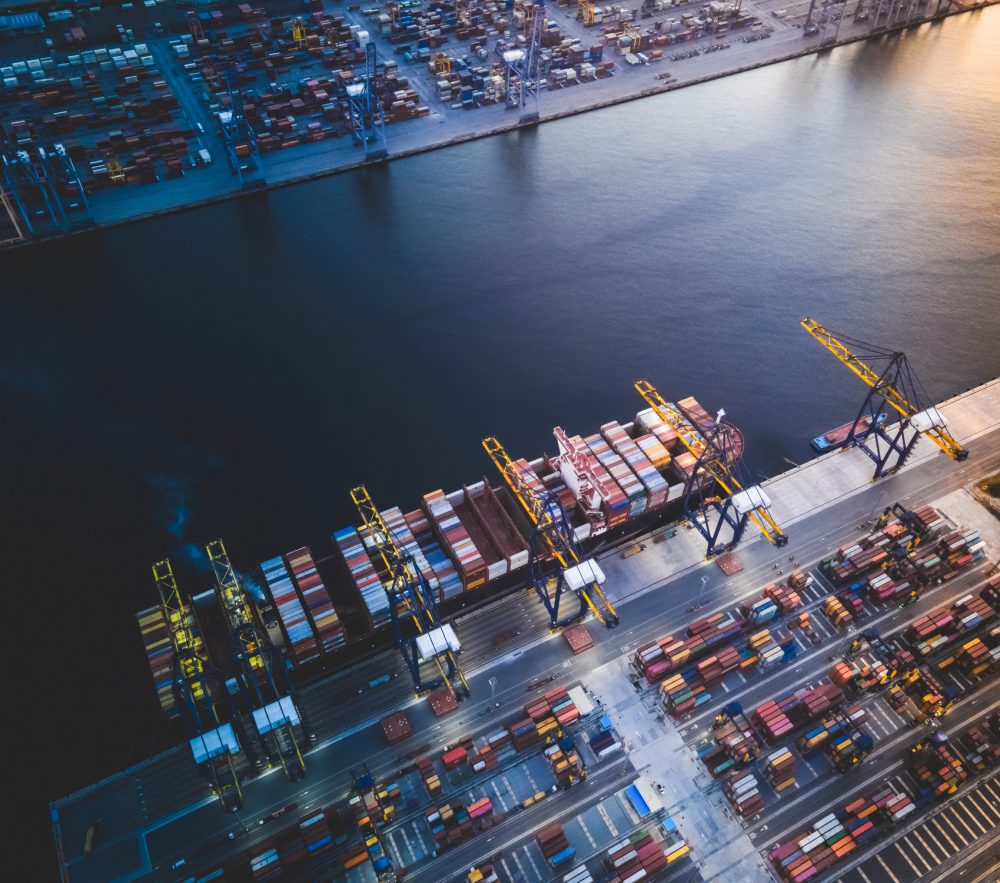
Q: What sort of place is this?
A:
port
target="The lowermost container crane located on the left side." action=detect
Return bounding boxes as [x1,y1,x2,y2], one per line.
[358,817,400,883]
